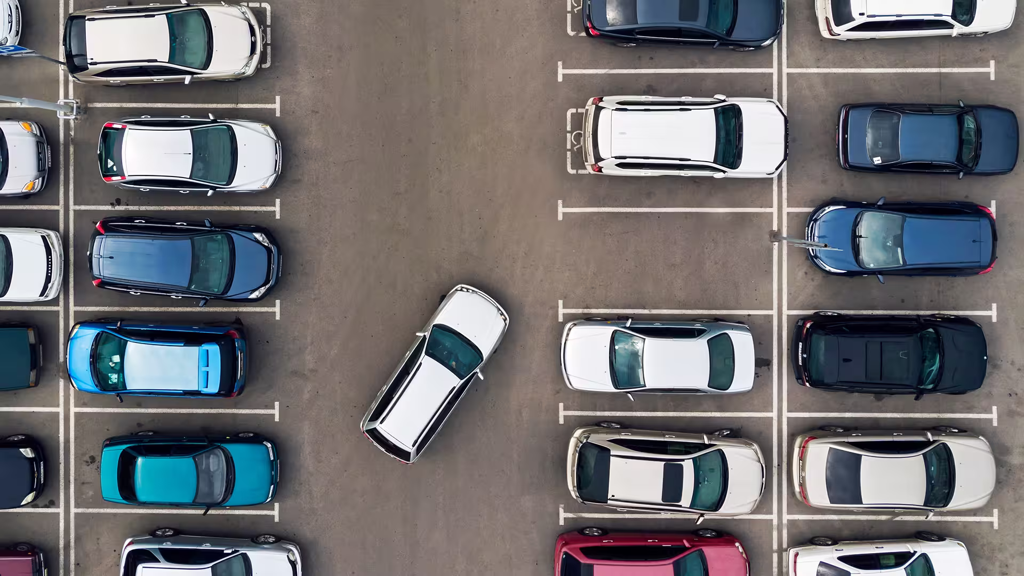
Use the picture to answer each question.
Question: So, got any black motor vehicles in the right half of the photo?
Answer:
Yes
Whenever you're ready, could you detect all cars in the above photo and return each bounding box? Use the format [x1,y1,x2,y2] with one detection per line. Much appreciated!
[87,217,283,309]
[67,316,249,408]
[98,110,283,201]
[583,86,789,184]
[0,320,43,392]
[561,314,754,405]
[787,532,973,576]
[582,0,784,52]
[0,429,47,509]
[555,524,750,576]
[0,0,26,44]
[100,427,279,518]
[791,310,990,407]
[0,545,48,576]
[361,286,508,464]
[814,0,1016,42]
[835,94,1019,182]
[568,421,765,527]
[61,0,264,91]
[805,195,999,286]
[120,526,302,576]
[0,226,66,302]
[791,424,995,522]
[0,122,54,194]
